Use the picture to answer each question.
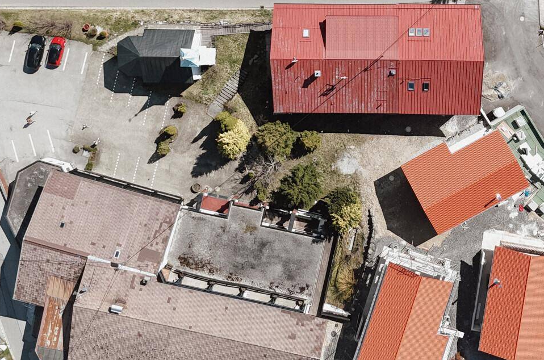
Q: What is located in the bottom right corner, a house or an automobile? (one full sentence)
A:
Looking in the bottom right corner, you will find a house.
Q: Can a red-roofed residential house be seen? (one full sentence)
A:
Yes, you can see a red-roofed residential house in this photo.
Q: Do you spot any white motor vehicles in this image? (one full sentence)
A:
No, I find no white motor vehicle anywhere in the image.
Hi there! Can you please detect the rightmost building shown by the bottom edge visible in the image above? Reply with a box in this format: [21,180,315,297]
[478,243,544,360]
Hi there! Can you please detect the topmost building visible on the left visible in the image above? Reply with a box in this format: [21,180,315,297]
[117,29,216,83]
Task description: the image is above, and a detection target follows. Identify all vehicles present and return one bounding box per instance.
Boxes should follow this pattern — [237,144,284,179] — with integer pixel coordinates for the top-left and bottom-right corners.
[26,35,48,71]
[47,36,67,67]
